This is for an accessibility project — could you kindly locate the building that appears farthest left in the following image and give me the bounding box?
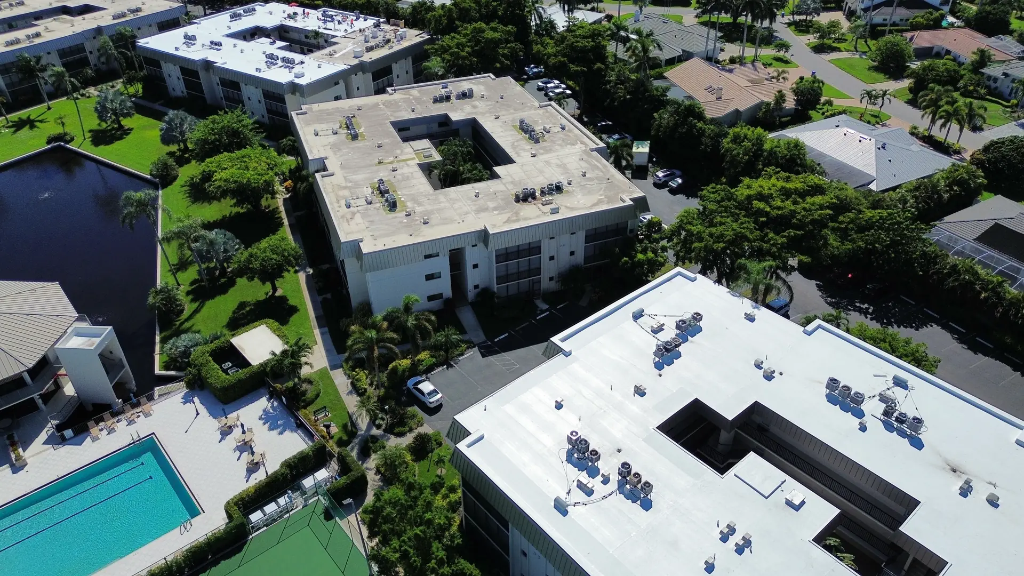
[0,280,91,431]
